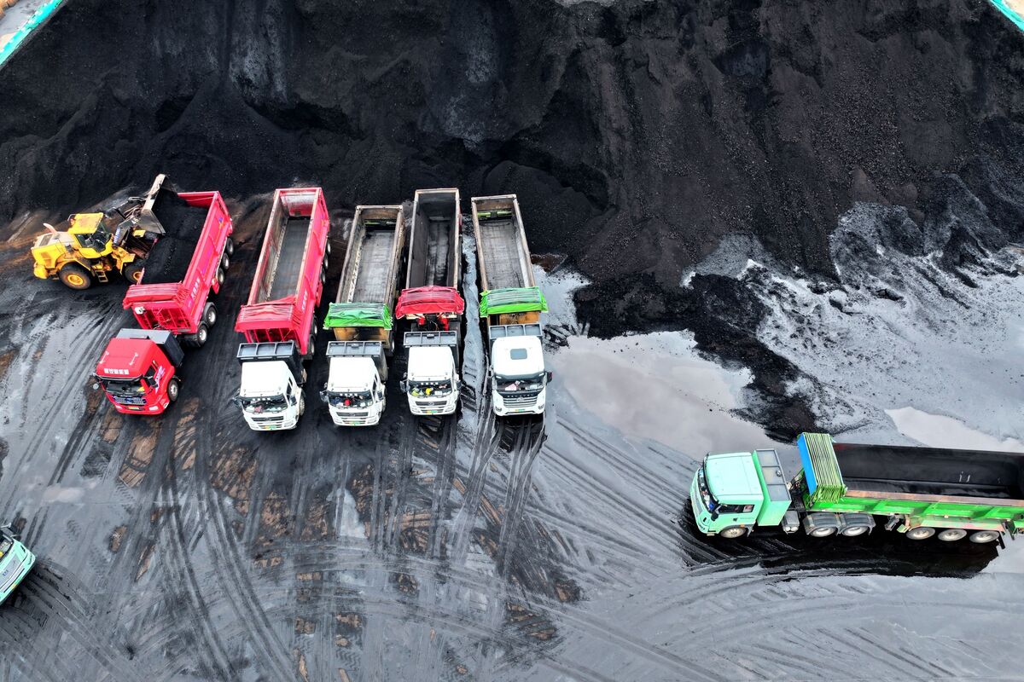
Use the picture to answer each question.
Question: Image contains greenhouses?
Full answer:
No, the picture doesn't show any greenhouse.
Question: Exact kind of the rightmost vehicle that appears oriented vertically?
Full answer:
Specifically, the rightmost vehicle that appears oriented vertically is a truck.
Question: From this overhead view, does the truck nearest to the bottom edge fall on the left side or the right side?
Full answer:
The truck nearest to the bottom edge appears in the left half of the scene.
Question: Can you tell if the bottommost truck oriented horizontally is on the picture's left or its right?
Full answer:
The bottommost truck oriented horizontally is on the right side of the image.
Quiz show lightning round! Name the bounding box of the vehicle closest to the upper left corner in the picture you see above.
[29,172,177,289]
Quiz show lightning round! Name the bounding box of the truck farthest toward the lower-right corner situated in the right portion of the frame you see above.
[693,435,1024,543]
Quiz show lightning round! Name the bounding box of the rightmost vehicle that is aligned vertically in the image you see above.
[471,194,555,414]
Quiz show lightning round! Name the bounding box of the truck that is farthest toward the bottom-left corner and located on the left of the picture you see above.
[0,528,36,610]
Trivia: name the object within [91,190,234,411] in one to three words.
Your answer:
truck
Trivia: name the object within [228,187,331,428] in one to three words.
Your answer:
truck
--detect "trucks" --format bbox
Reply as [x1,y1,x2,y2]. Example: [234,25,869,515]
[395,188,465,414]
[0,528,36,610]
[91,190,234,411]
[693,435,1024,543]
[228,187,331,428]
[471,194,555,414]
[315,205,407,425]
